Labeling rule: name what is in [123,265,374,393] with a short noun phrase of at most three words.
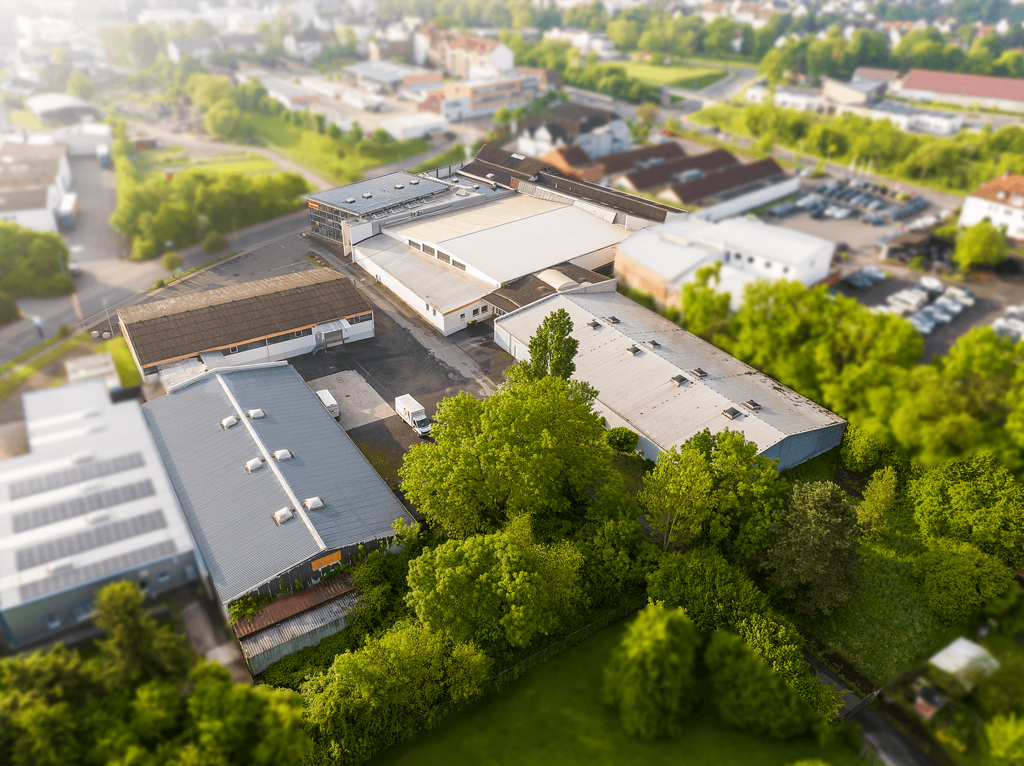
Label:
building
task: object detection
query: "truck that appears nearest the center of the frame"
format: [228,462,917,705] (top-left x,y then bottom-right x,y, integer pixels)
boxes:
[396,396,431,436]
